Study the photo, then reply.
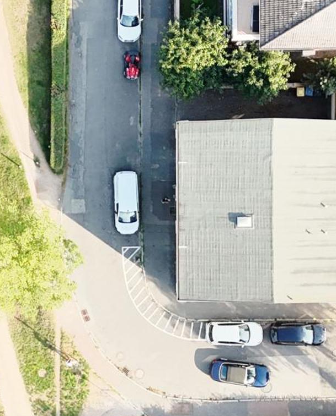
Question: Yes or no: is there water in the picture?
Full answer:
No, the picture contains no water.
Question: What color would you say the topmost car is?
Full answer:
From above, the topmost car appears white.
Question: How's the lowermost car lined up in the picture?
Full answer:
The lowermost car runs from left to right in the image.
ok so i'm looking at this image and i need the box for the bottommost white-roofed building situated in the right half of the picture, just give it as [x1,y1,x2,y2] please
[172,119,336,304]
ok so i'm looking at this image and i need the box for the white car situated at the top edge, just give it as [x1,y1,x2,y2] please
[115,0,144,42]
